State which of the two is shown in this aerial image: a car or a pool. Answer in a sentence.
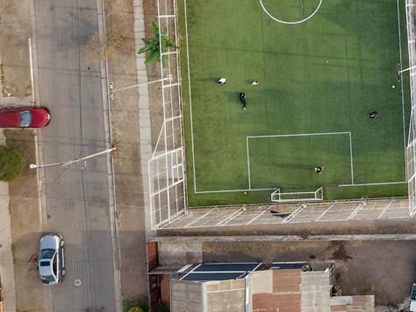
I can see a car in this picture.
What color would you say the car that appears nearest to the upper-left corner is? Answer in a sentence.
The color of the car that appears nearest to the upper-left corner is red.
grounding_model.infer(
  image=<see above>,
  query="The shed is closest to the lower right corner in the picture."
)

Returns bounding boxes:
[331,294,375,312]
